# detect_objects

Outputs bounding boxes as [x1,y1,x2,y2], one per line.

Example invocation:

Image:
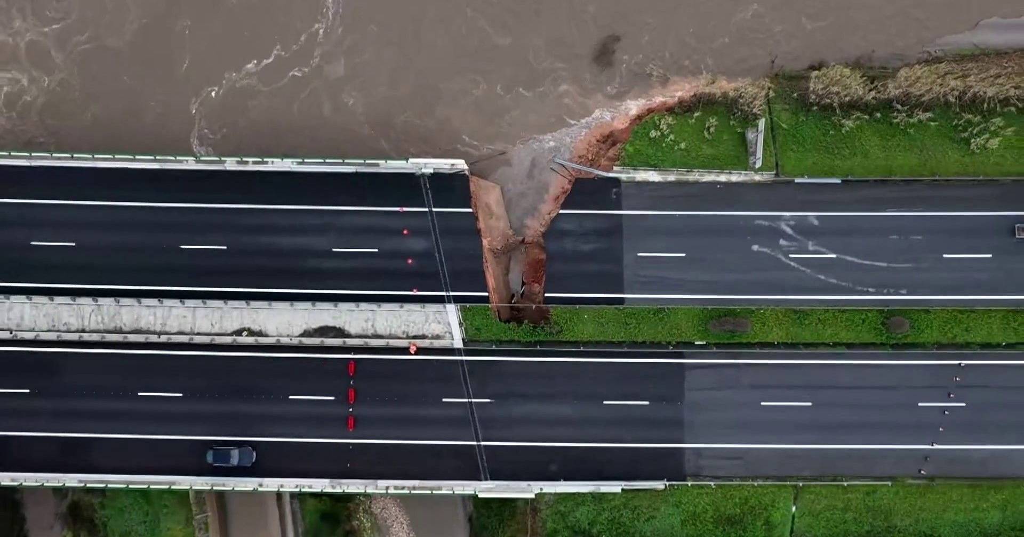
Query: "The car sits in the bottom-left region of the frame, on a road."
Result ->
[206,444,257,469]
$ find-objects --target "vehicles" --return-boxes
[206,444,257,469]
[1008,223,1024,240]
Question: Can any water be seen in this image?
Yes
